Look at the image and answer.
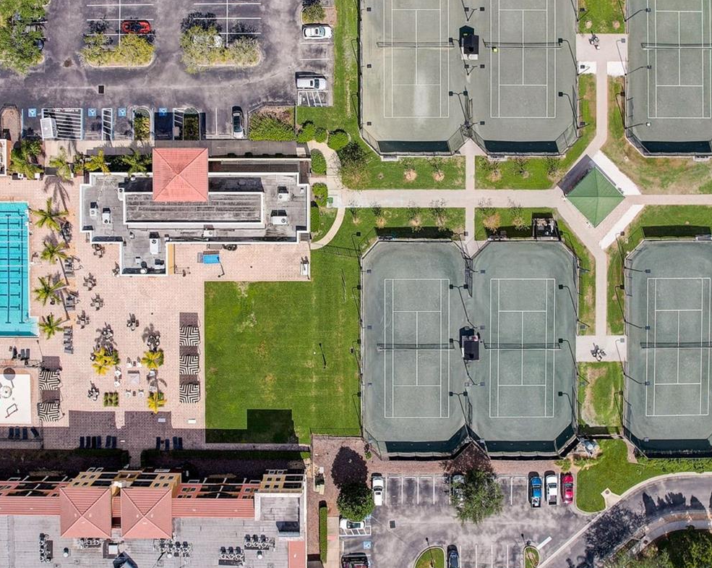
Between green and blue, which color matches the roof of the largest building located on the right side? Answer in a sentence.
The roof of the largest building located on the right side is green.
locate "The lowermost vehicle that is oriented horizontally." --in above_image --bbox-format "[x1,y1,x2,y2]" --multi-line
[341,554,370,568]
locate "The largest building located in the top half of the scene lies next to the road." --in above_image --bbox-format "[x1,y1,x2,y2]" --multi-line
[79,147,311,276]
